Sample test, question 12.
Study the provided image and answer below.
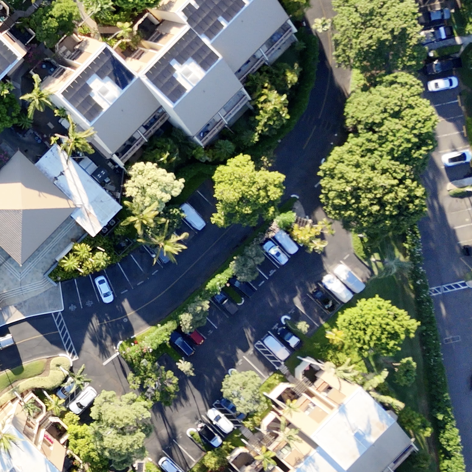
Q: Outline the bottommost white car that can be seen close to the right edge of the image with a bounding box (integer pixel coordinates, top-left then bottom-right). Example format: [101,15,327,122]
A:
[439,151,472,165]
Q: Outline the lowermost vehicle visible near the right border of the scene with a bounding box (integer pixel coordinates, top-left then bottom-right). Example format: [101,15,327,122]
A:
[459,245,472,259]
